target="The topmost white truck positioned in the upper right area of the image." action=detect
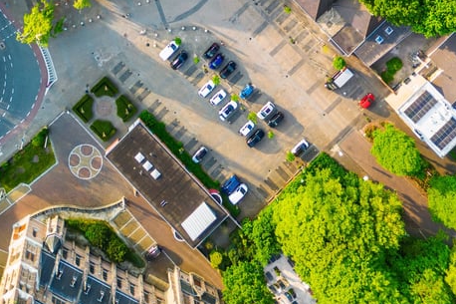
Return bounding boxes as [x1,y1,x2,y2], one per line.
[326,66,353,90]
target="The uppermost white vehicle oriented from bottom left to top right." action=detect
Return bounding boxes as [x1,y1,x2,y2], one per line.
[159,40,180,62]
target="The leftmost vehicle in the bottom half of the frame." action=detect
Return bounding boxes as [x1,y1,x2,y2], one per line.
[142,240,162,259]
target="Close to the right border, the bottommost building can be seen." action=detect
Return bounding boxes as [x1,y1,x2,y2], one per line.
[378,68,456,158]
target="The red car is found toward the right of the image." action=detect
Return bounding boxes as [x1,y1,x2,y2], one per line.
[357,93,374,109]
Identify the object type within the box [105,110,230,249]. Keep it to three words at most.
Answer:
building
